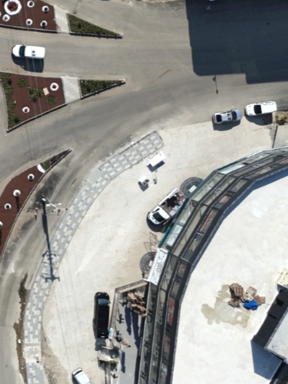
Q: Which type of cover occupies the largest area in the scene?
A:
paved ground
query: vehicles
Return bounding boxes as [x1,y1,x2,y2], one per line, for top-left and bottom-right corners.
[70,369,90,384]
[150,189,187,224]
[210,109,242,125]
[11,44,46,60]
[93,293,112,338]
[243,100,279,117]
